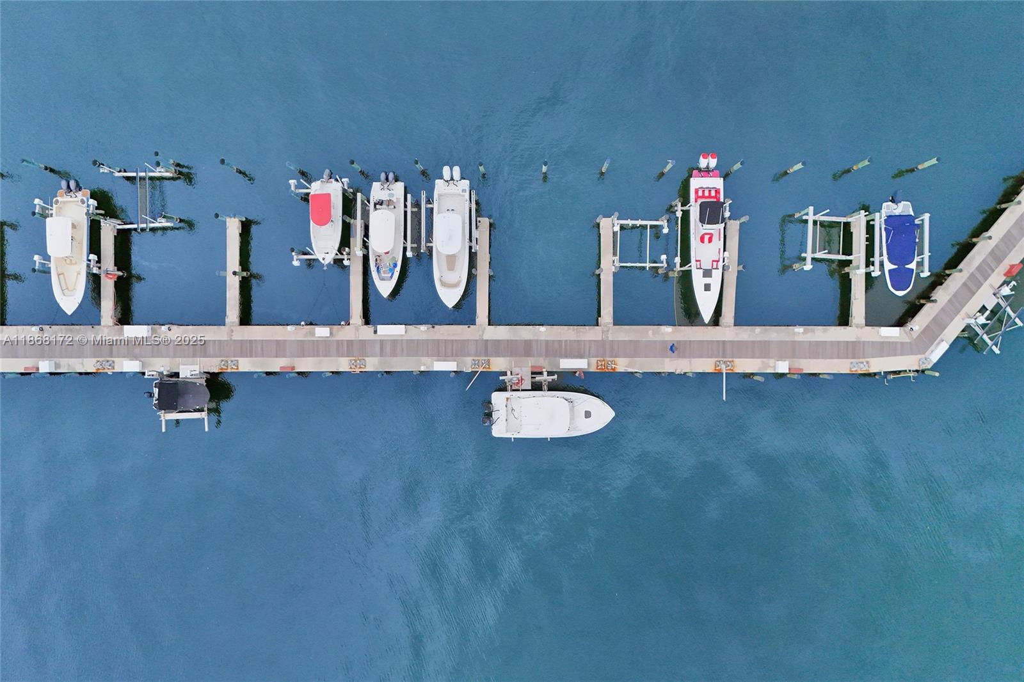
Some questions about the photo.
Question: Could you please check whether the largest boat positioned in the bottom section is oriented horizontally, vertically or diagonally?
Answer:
horizontally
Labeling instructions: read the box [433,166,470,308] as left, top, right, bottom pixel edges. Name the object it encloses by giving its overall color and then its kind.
white boat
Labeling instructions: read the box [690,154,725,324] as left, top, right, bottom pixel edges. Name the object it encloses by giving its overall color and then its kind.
white boat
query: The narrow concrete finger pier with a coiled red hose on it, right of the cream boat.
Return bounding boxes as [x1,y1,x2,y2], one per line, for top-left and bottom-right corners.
[101,223,119,326]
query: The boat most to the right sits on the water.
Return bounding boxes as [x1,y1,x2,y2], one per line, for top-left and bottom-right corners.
[879,191,920,297]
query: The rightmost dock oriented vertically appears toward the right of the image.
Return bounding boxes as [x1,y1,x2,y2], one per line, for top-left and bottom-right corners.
[848,215,866,327]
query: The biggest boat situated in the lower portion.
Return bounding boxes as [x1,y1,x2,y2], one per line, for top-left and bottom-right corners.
[482,391,616,438]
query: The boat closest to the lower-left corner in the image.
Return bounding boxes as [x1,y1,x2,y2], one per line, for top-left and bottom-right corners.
[145,379,212,411]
